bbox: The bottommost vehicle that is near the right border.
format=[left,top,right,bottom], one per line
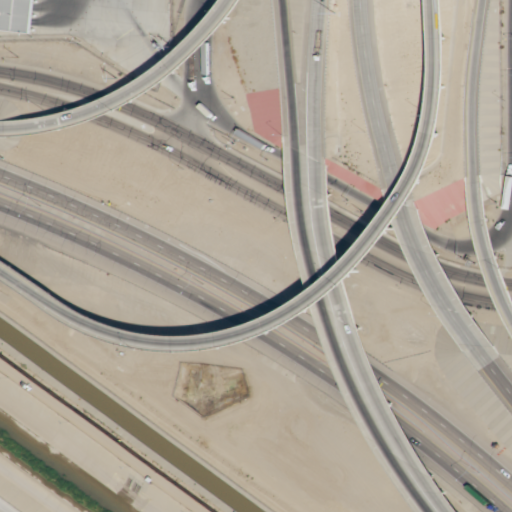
[464,482,501,512]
